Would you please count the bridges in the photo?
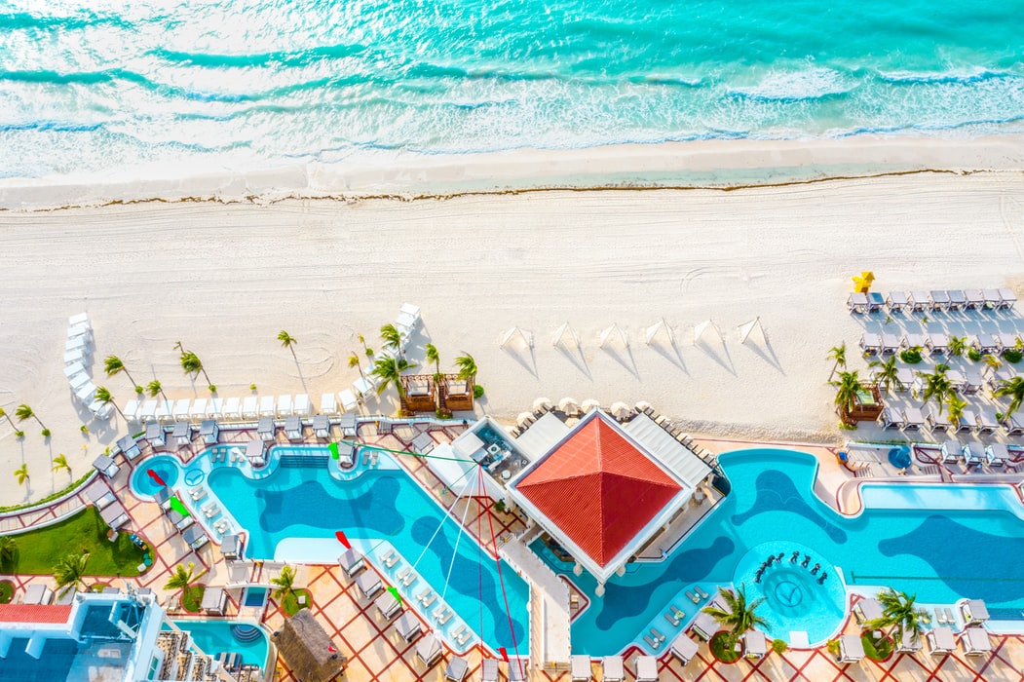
1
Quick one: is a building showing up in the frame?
Yes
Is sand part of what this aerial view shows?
Yes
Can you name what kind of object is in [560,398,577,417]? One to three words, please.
umbrella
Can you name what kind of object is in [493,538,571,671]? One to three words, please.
bridge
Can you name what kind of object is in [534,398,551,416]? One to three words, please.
umbrella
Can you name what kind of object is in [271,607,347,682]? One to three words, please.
shed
